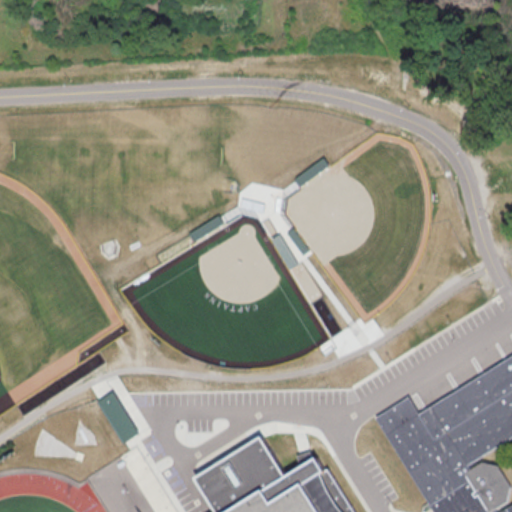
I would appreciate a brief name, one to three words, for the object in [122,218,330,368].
baseball field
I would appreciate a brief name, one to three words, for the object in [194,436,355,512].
building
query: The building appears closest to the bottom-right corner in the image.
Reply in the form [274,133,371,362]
[376,355,512,512]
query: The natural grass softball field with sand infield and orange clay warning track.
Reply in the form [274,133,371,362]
[286,132,432,322]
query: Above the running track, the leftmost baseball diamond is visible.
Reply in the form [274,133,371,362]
[0,174,122,414]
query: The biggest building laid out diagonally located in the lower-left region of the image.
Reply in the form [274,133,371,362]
[100,390,138,442]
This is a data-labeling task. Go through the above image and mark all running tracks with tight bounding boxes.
[0,468,106,512]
